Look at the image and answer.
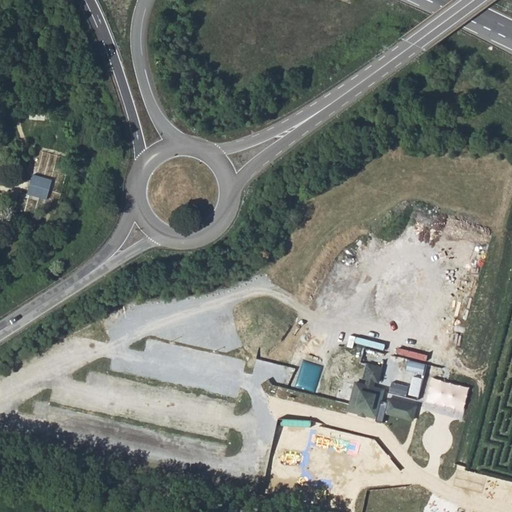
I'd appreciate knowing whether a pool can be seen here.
Yes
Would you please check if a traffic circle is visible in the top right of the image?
No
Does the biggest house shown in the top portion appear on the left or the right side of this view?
left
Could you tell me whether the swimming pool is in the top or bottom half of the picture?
bottom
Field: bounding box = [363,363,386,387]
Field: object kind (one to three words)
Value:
building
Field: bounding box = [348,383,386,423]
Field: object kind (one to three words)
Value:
building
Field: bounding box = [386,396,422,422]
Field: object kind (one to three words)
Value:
house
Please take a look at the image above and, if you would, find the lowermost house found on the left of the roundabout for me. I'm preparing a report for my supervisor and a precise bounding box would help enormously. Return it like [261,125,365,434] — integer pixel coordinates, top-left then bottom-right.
[26,172,52,199]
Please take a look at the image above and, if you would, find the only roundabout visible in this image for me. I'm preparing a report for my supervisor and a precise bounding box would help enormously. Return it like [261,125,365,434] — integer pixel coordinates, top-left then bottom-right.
[125,128,242,250]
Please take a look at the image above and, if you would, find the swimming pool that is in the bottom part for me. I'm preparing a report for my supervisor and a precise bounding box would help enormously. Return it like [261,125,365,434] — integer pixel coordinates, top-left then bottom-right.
[294,358,325,394]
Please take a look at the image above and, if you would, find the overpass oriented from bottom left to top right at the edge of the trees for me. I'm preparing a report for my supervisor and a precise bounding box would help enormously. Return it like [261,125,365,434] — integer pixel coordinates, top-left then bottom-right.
[404,0,496,56]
